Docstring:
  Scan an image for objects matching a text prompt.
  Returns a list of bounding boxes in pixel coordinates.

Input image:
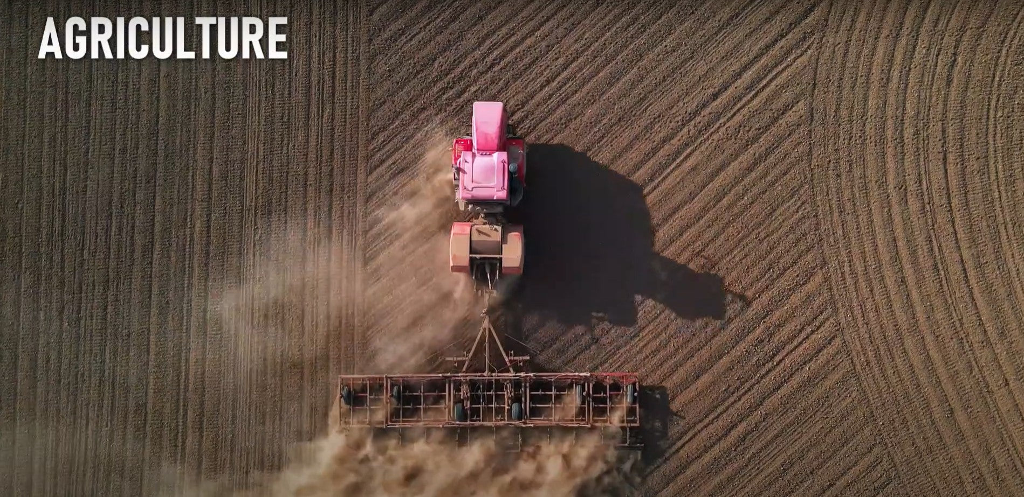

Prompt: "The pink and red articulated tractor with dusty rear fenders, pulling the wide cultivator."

[448,102,526,309]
